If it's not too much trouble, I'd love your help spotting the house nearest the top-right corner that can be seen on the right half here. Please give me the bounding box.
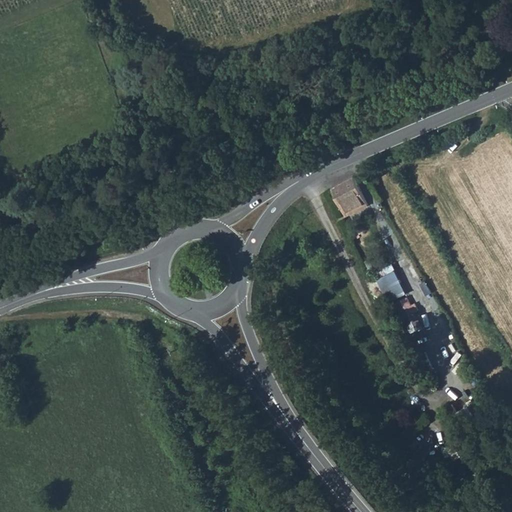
[330,178,368,218]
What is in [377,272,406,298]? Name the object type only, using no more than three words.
building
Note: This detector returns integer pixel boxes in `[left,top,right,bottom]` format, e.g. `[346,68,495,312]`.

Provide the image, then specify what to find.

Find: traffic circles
[150,219,252,320]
